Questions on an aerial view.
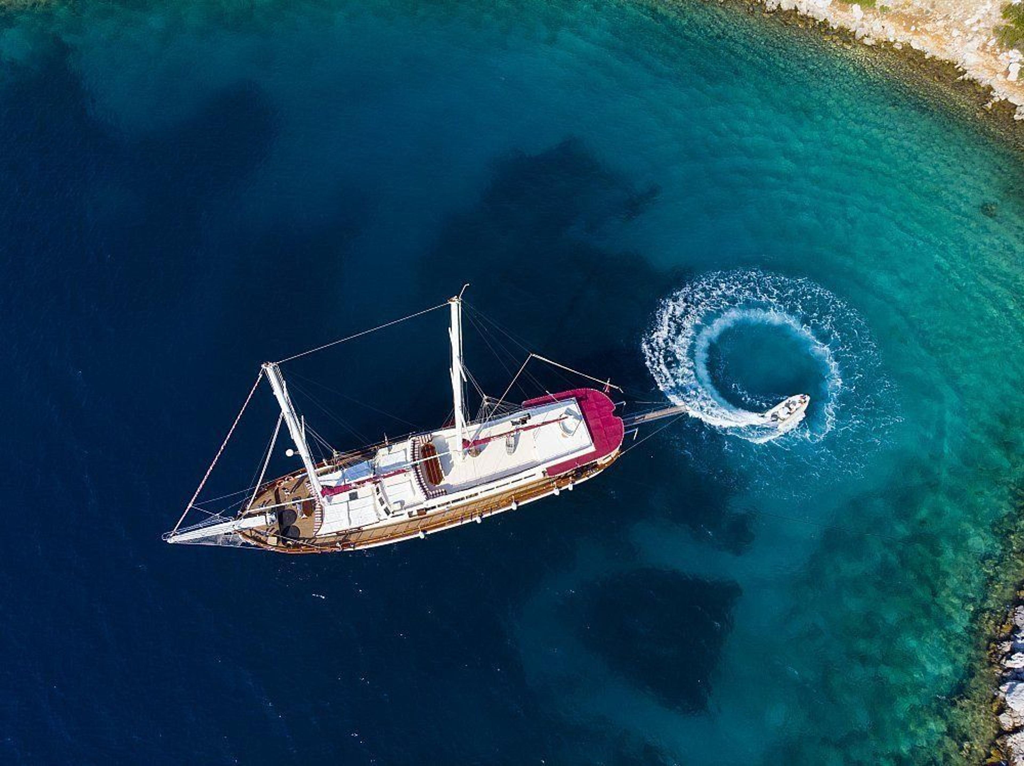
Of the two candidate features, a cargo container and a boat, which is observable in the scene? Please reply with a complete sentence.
This aerial view contains a boat.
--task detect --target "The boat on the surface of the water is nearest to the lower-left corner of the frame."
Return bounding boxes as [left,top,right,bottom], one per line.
[158,283,688,554]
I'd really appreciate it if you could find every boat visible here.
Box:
[761,395,810,430]
[158,283,688,554]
